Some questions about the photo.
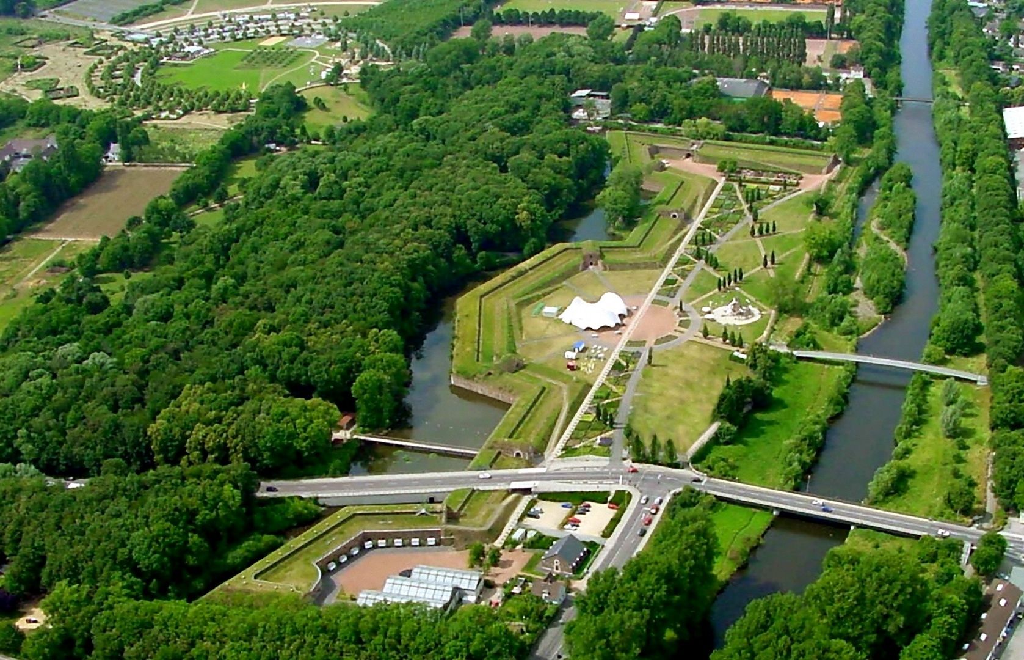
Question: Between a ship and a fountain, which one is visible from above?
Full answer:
It is a fountain that can be seen here.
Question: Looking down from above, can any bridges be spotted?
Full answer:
Yes, you can see a bridge in this photo.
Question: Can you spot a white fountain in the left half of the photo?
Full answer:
No, I see no white fountain in the left half of the photo.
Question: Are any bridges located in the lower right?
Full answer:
Yes, you'll find a bridge in the lower right.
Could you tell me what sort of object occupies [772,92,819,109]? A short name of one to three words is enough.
tennis court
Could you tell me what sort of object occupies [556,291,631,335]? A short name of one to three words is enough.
tent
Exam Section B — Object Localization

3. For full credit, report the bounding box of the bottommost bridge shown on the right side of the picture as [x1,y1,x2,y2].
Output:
[712,474,928,535]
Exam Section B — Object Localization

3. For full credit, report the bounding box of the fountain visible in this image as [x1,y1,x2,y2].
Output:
[712,296,759,325]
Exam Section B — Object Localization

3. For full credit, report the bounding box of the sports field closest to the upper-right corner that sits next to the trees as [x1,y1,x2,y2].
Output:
[696,9,831,38]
